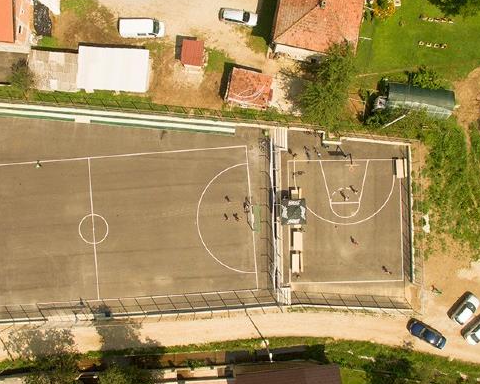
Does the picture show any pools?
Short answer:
No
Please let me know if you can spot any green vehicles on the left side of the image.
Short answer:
No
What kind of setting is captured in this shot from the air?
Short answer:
sports ground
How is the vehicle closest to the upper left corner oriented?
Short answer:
from side to side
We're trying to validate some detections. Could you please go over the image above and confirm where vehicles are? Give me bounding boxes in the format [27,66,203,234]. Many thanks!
[450,292,480,326]
[408,319,446,348]
[464,318,480,347]
[120,17,165,39]
[220,8,258,27]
